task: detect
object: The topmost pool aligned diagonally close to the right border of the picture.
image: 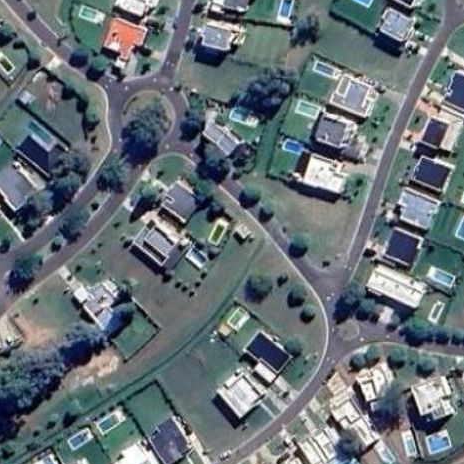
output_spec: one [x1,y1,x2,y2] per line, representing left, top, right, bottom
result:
[428,265,456,289]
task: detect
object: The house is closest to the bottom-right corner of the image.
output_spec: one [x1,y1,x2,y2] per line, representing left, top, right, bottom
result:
[412,374,462,420]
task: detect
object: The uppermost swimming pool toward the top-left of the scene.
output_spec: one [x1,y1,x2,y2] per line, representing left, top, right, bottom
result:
[80,6,104,23]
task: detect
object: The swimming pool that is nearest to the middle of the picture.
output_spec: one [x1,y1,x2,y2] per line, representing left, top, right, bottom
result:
[208,221,230,246]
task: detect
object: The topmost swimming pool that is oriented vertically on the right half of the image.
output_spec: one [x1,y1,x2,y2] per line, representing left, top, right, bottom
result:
[277,0,294,25]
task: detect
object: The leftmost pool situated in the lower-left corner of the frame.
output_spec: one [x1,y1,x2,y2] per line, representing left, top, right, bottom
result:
[68,427,94,451]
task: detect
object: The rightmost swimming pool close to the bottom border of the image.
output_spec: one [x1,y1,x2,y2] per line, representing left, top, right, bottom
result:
[425,430,453,454]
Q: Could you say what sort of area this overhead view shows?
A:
residential area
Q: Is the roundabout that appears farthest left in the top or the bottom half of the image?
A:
top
